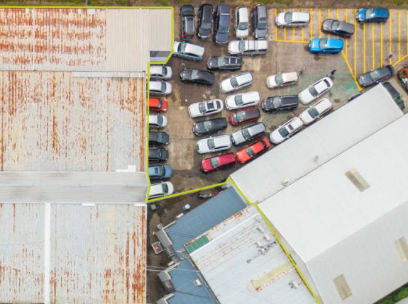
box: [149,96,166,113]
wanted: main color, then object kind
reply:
red car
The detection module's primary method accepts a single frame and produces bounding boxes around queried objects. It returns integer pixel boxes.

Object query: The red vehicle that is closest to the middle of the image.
[201,153,235,172]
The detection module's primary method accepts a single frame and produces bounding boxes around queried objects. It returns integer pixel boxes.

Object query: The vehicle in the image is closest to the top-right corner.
[353,7,390,25]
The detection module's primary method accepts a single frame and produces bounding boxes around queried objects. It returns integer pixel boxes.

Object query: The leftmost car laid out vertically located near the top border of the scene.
[177,3,195,41]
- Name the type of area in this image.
industrial area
